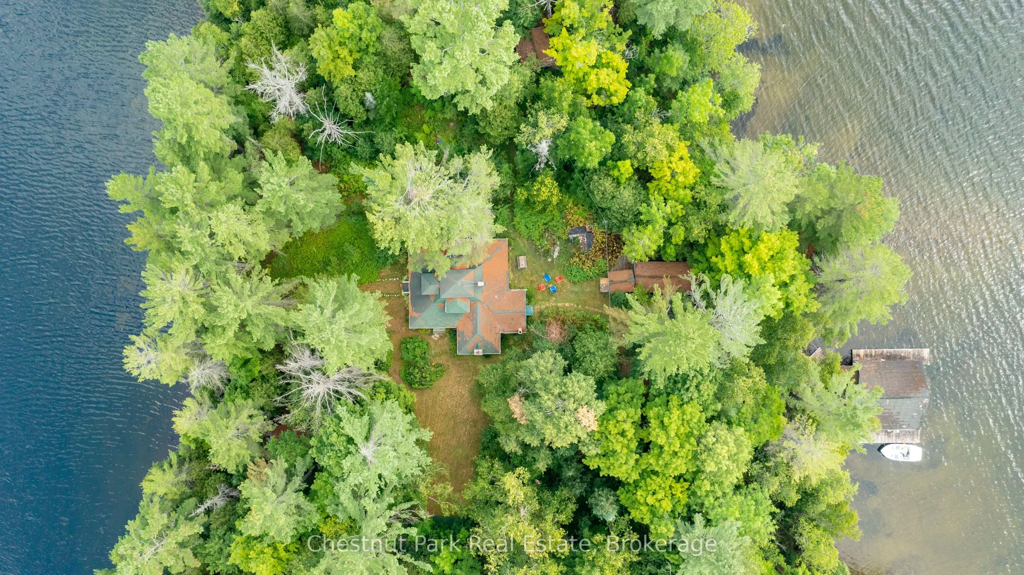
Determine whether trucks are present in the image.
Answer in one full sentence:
No, there's no truck here.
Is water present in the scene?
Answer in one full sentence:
Yes, there's water in this view.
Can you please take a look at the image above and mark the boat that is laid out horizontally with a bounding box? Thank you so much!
[882,445,926,463]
